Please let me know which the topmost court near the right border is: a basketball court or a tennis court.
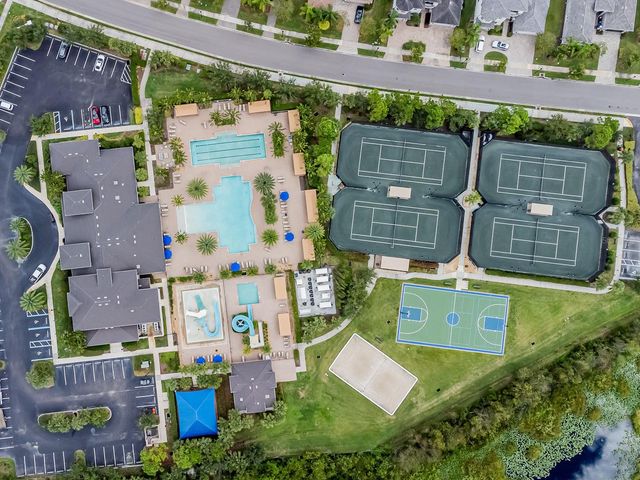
tennis court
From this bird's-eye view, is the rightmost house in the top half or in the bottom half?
top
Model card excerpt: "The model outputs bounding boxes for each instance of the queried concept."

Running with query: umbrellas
[196,355,206,364]
[285,232,294,242]
[164,249,173,259]
[231,262,240,272]
[163,235,172,244]
[213,354,222,363]
[279,191,289,201]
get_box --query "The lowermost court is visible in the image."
[329,334,418,415]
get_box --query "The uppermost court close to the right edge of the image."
[479,140,610,215]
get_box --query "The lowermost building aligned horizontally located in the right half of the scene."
[381,256,410,272]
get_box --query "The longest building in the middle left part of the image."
[49,140,167,346]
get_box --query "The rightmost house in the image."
[561,0,636,46]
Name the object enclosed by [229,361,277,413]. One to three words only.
building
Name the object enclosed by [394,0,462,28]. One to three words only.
house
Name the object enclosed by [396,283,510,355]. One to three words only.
basketball court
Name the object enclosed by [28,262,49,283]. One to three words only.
car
